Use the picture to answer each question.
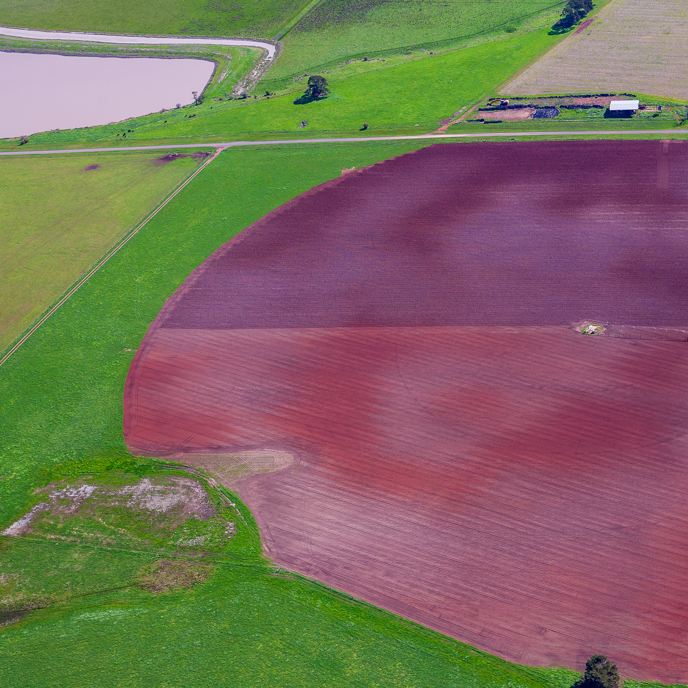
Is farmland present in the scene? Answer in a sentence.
Yes, there's farmland in this view.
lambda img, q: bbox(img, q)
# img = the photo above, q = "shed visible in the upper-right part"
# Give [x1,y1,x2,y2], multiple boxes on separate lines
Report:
[610,99,640,116]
